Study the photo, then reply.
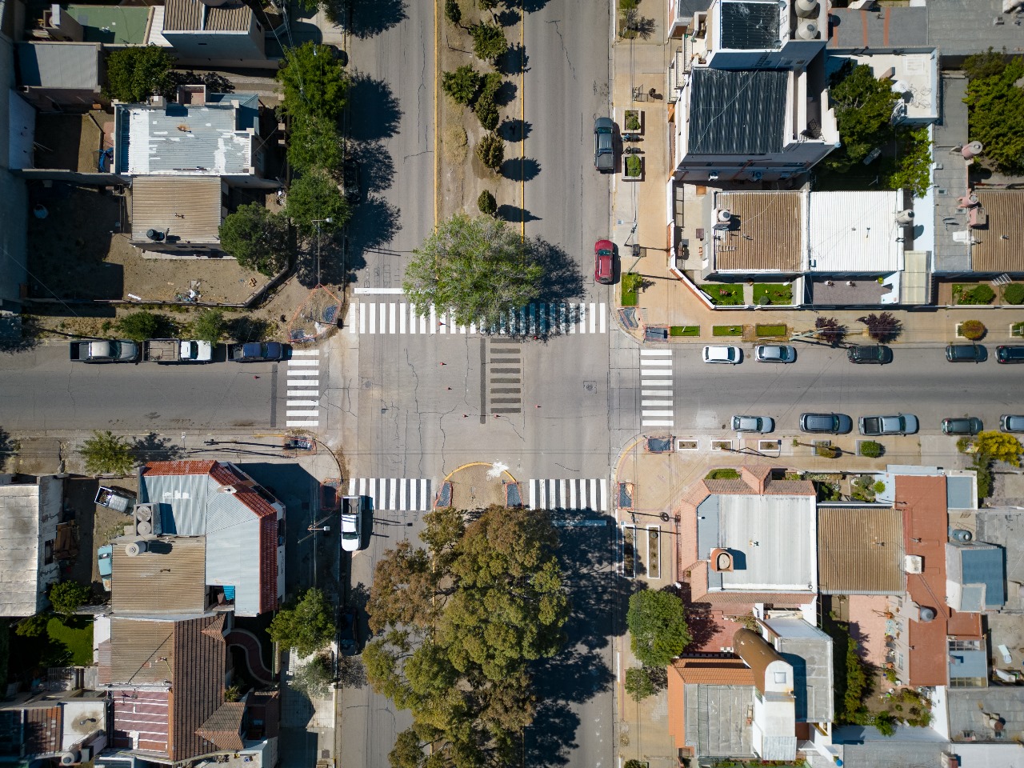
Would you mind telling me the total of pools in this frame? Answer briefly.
0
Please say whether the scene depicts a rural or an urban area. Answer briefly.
urban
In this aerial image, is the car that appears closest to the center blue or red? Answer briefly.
red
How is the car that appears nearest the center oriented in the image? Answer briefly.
vertically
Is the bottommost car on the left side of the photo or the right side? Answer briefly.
left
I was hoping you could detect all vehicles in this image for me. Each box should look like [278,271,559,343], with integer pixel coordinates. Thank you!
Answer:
[856,412,918,437]
[593,240,616,285]
[343,155,362,202]
[938,415,982,437]
[623,143,644,152]
[143,338,215,364]
[844,342,892,365]
[338,599,359,654]
[797,411,852,436]
[594,118,616,174]
[226,340,285,362]
[729,414,774,435]
[942,342,986,364]
[90,482,140,516]
[753,344,794,364]
[94,544,112,582]
[996,414,1024,433]
[69,339,141,363]
[339,494,364,551]
[700,344,741,365]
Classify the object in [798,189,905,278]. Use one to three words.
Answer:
house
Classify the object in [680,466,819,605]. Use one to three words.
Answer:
house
